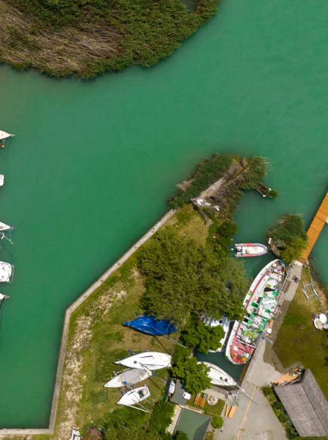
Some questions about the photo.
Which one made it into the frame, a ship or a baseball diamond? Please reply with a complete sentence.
The image shows a ship.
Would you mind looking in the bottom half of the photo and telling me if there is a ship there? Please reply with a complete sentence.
Yes, a ship can be seen in the bottom half of the photo.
